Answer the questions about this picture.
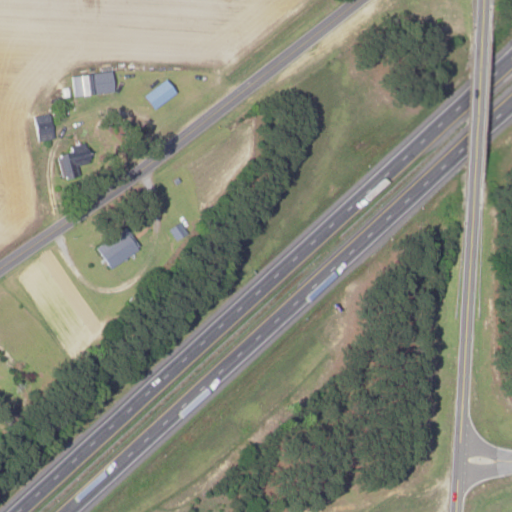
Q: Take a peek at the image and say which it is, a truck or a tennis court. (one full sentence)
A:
Looking from above, you can make out a truck.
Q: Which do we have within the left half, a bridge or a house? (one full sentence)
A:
The feature located within the left half is a house.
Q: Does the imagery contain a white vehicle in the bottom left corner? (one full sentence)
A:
Yes, a white vehicle can be seen in the bottom left corner.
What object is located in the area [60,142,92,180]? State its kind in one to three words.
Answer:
house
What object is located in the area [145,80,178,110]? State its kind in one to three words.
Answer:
barn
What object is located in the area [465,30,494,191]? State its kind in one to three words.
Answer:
bridge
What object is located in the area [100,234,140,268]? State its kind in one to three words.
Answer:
house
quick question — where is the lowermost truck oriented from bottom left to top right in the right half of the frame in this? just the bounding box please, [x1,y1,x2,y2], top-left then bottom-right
[308,261,348,299]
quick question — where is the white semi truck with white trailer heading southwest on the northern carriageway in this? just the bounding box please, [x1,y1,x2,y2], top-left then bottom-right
[354,178,391,210]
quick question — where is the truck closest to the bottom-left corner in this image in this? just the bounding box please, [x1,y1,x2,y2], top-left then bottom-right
[77,459,116,499]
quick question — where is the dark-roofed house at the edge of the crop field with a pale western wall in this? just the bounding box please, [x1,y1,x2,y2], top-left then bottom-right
[33,114,54,141]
